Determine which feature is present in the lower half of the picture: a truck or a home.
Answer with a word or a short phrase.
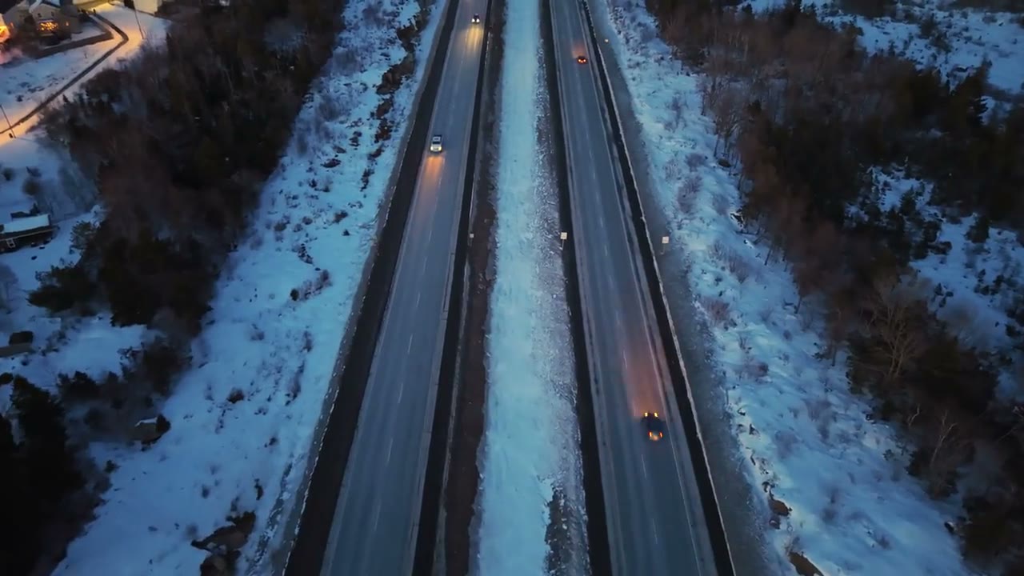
home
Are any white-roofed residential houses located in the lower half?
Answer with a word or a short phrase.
No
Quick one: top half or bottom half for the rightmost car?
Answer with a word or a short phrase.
bottom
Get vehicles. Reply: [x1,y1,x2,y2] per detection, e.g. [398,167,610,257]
[430,133,442,149]
[472,13,479,21]
[644,411,664,441]
[577,53,586,61]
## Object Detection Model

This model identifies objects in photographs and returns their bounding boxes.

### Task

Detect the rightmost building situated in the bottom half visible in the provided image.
[132,411,172,443]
